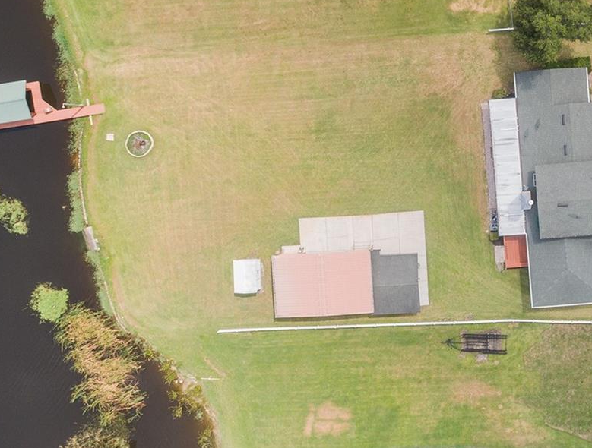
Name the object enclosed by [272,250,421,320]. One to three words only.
barn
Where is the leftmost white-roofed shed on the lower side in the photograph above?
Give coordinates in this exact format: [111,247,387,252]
[234,258,267,295]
